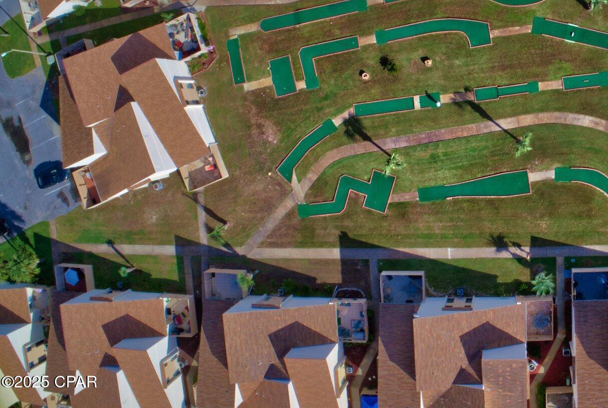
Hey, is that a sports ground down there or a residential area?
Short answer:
residential area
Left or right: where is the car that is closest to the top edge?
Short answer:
left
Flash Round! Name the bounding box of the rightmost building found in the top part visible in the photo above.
[58,13,229,209]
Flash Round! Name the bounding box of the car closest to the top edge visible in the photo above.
[30,164,70,187]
